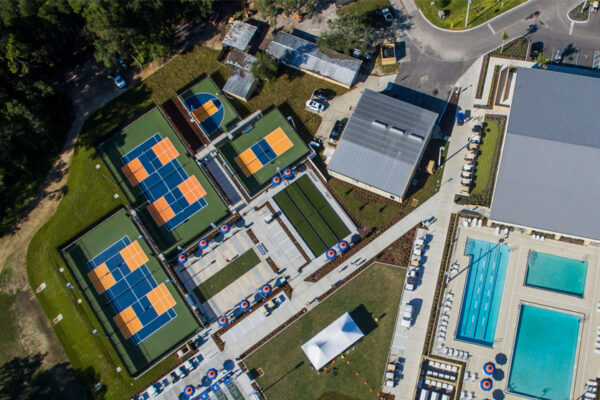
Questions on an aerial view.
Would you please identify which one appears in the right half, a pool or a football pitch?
pool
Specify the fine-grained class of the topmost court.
basketball court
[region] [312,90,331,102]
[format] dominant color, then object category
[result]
black vehicle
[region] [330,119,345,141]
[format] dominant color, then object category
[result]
black vehicle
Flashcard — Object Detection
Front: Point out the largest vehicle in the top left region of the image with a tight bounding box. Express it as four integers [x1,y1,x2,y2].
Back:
[114,75,127,90]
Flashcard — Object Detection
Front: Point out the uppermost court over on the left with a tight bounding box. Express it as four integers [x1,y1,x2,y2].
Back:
[178,77,239,141]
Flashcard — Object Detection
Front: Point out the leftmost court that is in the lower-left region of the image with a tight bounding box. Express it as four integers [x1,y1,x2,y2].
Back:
[62,210,200,373]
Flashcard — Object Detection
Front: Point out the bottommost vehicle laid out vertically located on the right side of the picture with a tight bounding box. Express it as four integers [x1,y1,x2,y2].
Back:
[401,300,414,329]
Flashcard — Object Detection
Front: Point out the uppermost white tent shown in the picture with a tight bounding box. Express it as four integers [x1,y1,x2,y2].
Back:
[301,313,365,372]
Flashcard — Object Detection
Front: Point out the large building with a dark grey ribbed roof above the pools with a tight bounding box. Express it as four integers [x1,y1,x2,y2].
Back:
[490,67,600,249]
